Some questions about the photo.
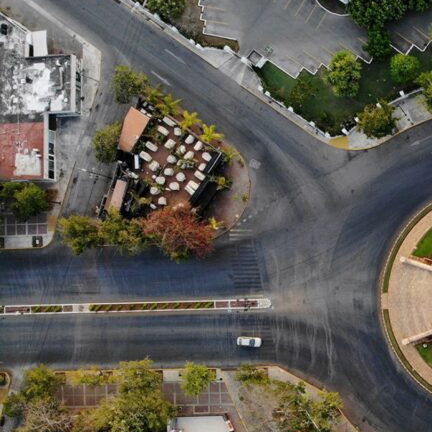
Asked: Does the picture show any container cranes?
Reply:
No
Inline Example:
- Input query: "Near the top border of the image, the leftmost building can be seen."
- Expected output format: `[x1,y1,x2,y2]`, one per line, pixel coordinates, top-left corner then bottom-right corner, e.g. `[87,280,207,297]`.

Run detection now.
[0,14,88,119]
